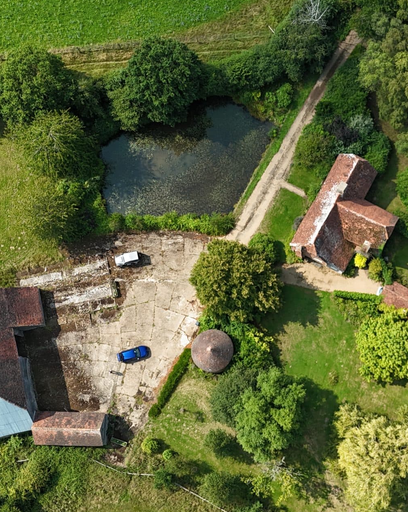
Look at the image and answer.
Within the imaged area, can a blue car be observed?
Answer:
Yes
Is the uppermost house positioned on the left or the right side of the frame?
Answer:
right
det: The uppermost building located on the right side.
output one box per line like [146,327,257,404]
[289,155,399,276]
